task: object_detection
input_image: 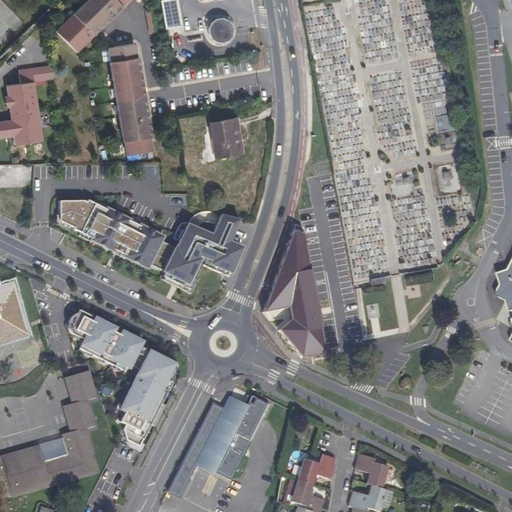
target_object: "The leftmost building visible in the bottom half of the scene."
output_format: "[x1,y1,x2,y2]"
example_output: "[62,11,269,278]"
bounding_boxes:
[0,277,35,347]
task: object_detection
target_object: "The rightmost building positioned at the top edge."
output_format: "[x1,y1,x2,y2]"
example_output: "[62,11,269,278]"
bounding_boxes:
[205,17,236,48]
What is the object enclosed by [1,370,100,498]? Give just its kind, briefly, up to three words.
building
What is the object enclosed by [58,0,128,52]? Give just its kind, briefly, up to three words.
house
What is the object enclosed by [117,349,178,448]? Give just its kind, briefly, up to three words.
building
